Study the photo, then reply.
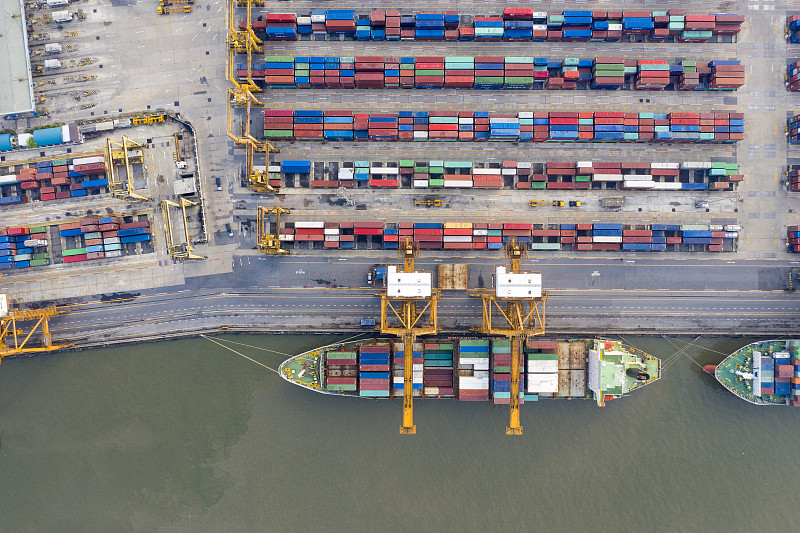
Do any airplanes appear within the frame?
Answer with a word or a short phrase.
No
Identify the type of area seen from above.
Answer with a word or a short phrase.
port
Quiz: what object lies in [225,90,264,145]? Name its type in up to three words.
container crane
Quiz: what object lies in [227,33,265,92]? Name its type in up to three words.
container crane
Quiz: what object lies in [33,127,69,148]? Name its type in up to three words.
shed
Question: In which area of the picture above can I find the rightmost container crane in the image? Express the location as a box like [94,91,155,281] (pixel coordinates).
[469,234,545,436]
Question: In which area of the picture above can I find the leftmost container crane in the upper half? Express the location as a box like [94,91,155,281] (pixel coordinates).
[102,134,156,202]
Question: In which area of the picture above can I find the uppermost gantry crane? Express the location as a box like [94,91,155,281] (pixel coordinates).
[227,0,265,44]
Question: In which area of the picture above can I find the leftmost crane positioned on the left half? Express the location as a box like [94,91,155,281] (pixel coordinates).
[0,262,75,369]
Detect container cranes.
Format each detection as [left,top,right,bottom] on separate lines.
[256,206,293,253]
[160,195,209,258]
[372,233,443,436]
[227,0,265,44]
[469,234,545,436]
[245,141,283,193]
[227,33,265,92]
[0,262,75,369]
[225,90,264,145]
[102,134,156,202]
